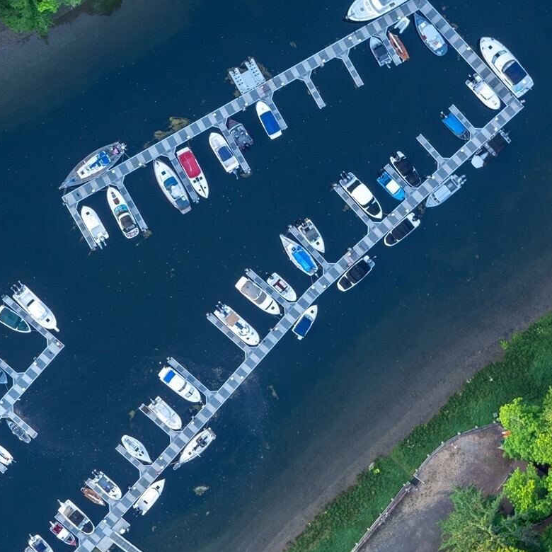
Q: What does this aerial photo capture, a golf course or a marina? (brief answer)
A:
marina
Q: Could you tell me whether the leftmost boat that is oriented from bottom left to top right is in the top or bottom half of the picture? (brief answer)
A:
top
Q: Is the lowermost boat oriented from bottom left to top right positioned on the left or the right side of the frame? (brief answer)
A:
left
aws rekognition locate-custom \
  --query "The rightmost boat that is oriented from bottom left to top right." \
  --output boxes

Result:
[471,132,511,168]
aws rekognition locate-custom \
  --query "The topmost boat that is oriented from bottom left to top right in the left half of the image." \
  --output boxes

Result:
[54,143,128,192]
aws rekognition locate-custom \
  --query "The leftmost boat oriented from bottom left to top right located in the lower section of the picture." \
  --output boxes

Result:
[131,479,165,517]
